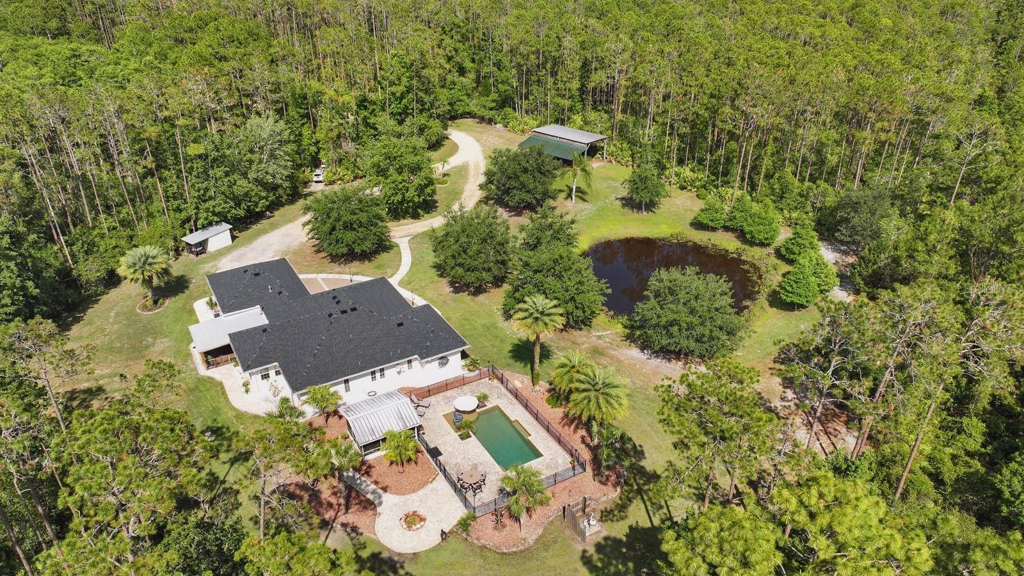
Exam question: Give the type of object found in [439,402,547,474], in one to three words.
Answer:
swimming pool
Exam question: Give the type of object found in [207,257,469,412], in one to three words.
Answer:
house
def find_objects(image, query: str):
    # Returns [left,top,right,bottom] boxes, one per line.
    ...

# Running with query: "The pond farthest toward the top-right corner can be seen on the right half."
[577,237,767,331]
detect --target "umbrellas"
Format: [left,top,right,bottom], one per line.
[454,395,479,414]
